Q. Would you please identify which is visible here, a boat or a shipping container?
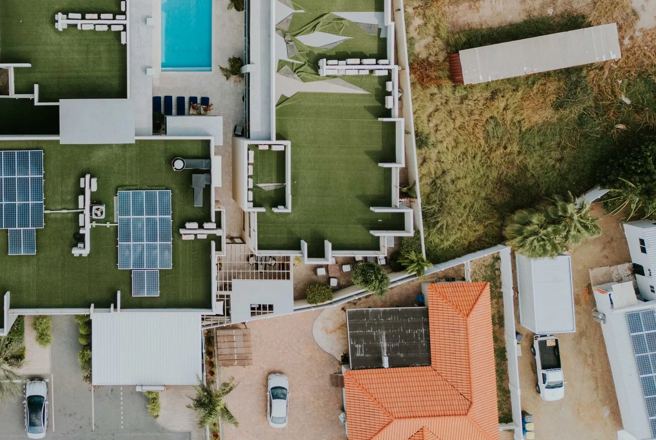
shipping container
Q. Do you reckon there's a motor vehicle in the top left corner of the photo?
No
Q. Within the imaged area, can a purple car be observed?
No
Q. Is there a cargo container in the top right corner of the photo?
Yes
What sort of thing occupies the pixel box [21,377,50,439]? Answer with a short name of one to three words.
car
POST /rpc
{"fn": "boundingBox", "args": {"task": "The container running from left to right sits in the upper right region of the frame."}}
[447,23,623,87]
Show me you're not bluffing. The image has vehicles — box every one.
[532,334,568,399]
[266,371,291,427]
[21,377,50,439]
